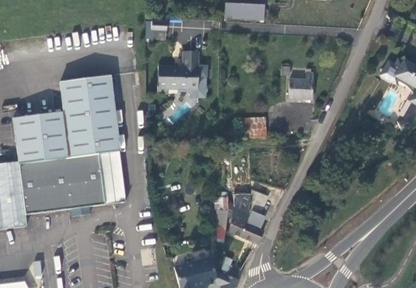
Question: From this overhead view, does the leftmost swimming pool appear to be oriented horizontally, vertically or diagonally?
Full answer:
The leftmost swimming pool is oriented diagonally.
